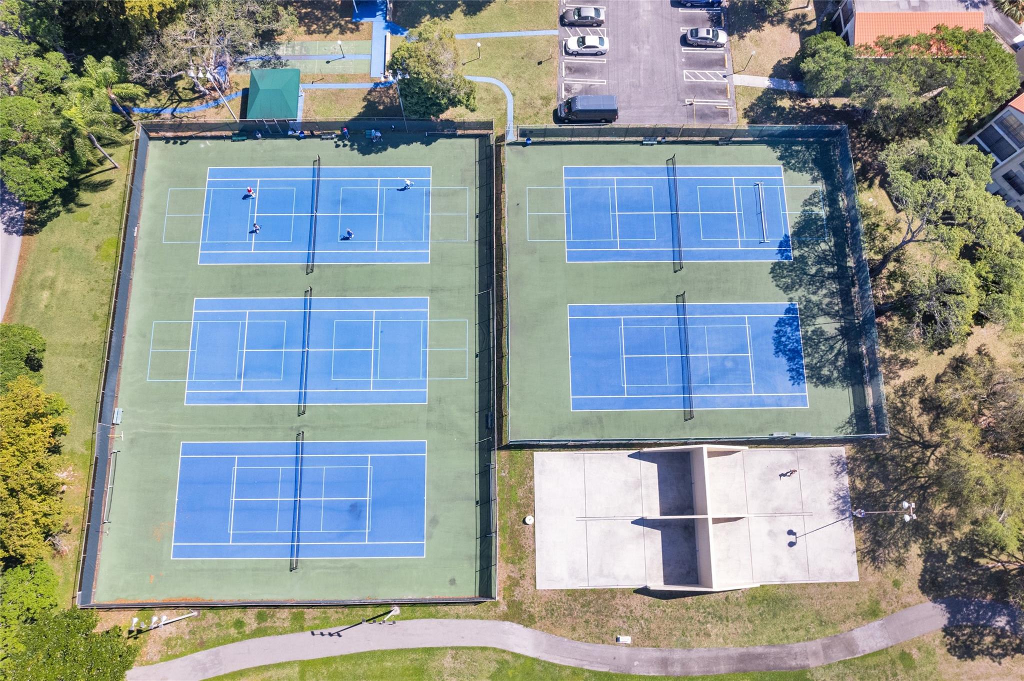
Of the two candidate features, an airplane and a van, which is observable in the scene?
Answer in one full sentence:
The one in the frame is a van.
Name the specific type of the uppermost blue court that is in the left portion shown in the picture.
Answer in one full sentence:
From above, the uppermost blue court that is in the left portion can be identified as a tennis court.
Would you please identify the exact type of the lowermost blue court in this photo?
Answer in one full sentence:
It looks like the lowermost blue court is a tennis court.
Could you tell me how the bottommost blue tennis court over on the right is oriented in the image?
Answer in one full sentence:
The bottommost blue tennis court over on the right is oriented from left to right.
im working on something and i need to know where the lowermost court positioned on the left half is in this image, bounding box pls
[171,440,426,559]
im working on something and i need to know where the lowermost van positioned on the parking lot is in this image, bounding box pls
[556,94,616,122]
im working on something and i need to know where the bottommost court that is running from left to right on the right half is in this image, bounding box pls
[534,447,859,589]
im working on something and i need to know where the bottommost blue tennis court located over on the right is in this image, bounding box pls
[568,303,808,410]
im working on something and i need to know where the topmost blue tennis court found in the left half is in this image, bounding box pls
[163,166,468,264]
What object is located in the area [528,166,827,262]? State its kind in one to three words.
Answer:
tennis court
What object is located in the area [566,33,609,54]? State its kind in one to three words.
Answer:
car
